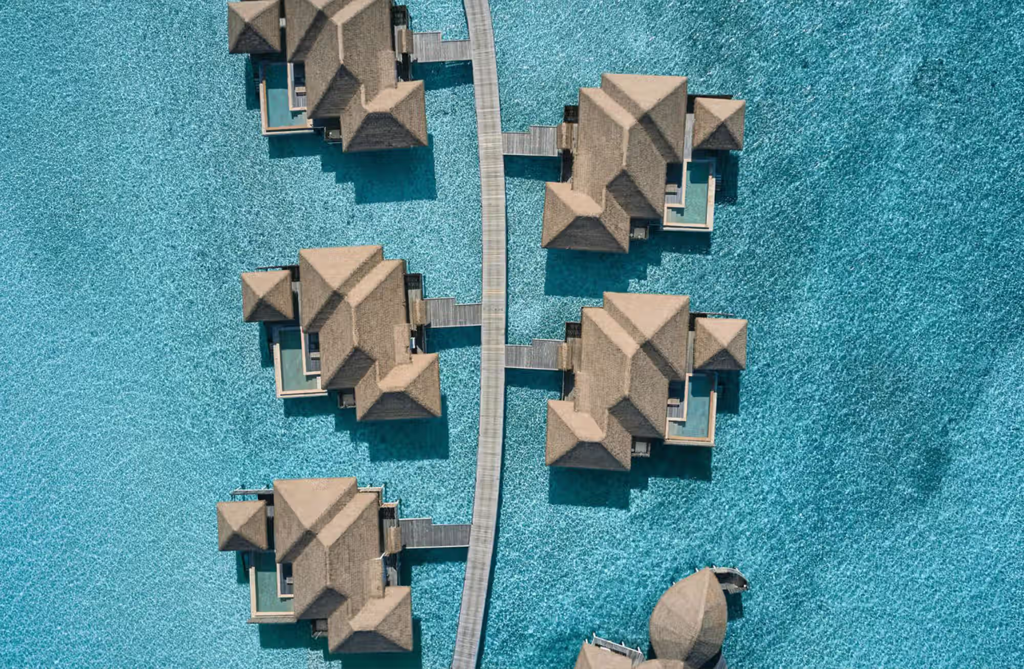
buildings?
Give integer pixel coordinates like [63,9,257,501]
[247,0,430,152]
[229,477,413,653]
[649,564,750,669]
[575,632,643,669]
[254,244,443,422]
[543,73,732,252]
[546,293,734,470]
